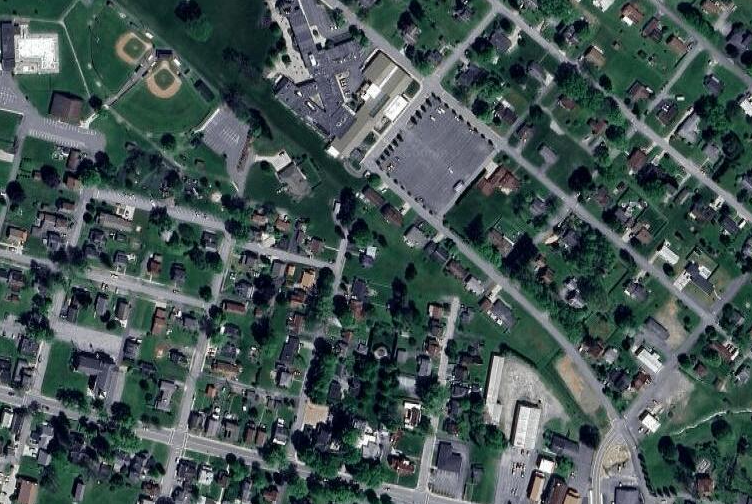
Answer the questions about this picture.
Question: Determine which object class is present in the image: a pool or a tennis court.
pool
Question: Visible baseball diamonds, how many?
2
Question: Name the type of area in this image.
residential area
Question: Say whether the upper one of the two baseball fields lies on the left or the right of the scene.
left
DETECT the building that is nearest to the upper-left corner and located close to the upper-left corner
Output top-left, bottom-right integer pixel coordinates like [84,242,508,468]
[0,21,16,70]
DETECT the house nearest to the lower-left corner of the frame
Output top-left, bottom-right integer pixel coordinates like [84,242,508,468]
[17,480,38,504]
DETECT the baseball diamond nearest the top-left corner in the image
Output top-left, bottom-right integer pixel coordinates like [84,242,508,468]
[90,17,153,91]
